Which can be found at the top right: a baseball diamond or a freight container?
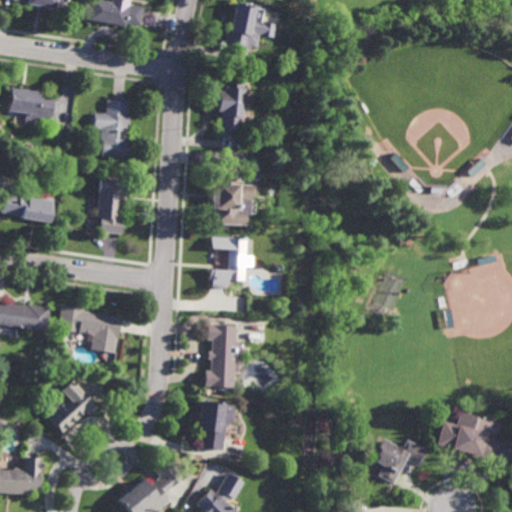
baseball diamond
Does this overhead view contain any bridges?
No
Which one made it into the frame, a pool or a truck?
pool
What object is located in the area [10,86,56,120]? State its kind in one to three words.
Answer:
house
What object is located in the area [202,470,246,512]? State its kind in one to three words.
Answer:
house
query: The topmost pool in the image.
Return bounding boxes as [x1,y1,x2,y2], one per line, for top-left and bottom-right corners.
[248,276,280,295]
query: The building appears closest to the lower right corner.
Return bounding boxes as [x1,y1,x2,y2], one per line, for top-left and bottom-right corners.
[438,410,498,459]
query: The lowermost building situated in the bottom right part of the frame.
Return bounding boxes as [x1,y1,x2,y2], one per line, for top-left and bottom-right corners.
[376,436,428,488]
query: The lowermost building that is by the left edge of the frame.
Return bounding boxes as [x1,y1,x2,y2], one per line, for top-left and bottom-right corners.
[0,453,44,496]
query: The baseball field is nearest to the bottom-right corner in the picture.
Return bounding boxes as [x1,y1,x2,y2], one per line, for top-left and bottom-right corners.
[444,250,512,338]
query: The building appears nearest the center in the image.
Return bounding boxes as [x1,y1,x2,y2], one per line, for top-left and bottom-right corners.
[212,235,256,288]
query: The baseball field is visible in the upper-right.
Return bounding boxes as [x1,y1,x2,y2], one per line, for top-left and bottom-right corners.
[348,46,512,190]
